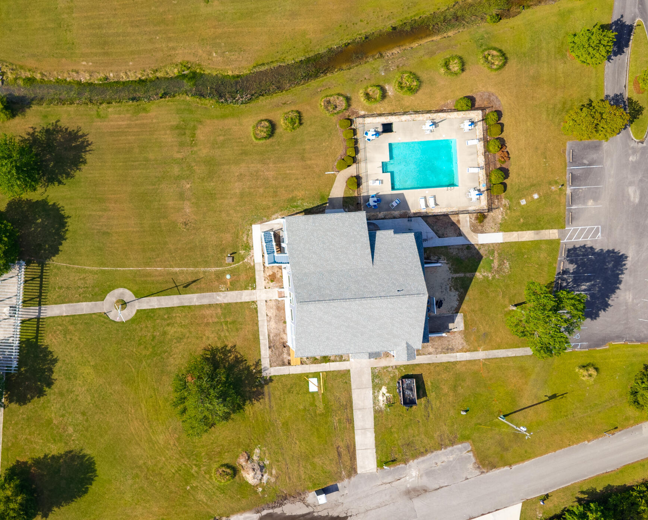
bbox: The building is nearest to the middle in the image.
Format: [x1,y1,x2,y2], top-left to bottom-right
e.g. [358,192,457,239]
[283,211,431,361]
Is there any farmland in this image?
No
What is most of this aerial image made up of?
grass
